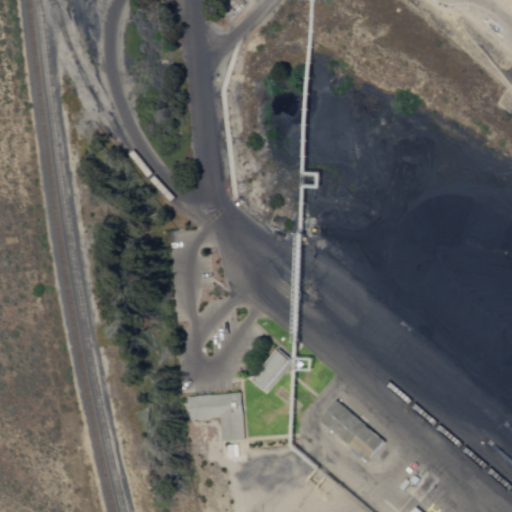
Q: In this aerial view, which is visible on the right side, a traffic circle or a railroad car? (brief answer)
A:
railroad car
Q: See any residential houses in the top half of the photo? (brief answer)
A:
No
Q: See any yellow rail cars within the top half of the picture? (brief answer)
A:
No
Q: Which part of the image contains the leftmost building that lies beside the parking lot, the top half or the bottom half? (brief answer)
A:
bottom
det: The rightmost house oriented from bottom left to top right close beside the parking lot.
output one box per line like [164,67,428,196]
[254,350,290,392]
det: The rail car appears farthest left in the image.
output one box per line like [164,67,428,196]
[130,152,152,176]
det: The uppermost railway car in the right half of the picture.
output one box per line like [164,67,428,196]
[386,381,412,405]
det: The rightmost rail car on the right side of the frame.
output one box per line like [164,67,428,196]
[487,468,512,492]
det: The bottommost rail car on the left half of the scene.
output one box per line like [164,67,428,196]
[151,176,174,200]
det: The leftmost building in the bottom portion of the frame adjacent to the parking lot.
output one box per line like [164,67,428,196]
[188,393,245,441]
